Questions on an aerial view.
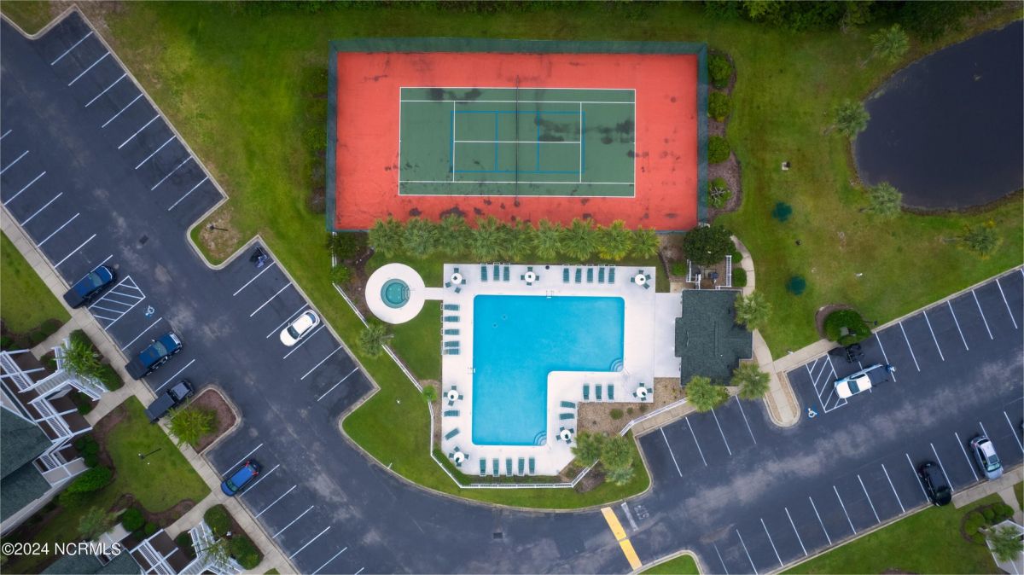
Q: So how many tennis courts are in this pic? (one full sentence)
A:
Only 1 tennis court is visible.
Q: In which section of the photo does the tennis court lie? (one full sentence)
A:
The tennis court is located in the top region of the scene.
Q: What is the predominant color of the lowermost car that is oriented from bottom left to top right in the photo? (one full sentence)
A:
From above, the lowermost car that is oriented from bottom left to top right appears blue.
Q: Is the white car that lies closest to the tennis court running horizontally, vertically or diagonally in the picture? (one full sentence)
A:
What the image shows is the white car that lies closest to the tennis court lying diagonally.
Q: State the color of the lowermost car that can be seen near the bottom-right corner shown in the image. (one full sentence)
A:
From above, the lowermost car that can be seen near the bottom-right corner appears black.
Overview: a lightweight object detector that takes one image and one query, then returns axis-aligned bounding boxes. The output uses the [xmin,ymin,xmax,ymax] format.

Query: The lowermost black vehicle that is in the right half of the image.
[915,459,950,505]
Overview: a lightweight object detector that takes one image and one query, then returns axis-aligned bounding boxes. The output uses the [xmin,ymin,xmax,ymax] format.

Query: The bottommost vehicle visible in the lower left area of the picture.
[223,458,262,494]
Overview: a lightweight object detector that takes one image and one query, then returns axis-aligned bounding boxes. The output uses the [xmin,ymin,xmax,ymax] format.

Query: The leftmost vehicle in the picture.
[64,265,121,312]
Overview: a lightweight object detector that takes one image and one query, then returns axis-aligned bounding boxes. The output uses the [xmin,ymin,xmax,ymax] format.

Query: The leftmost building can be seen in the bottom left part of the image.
[0,340,109,534]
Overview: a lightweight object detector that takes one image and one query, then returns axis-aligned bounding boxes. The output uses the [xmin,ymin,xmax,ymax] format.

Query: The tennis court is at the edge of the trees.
[336,51,698,234]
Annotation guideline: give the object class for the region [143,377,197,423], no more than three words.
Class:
truck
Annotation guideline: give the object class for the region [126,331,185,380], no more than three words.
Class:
truck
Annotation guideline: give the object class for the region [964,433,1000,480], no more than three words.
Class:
car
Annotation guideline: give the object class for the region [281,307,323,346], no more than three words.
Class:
car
